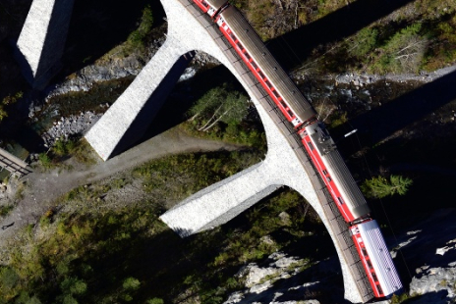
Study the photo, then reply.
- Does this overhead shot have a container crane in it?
No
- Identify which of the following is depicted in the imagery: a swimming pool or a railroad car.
railroad car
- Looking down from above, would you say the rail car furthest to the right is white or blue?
white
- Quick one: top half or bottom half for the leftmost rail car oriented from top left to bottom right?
top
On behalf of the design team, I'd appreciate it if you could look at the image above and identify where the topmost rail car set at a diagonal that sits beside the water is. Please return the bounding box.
[211,2,317,130]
